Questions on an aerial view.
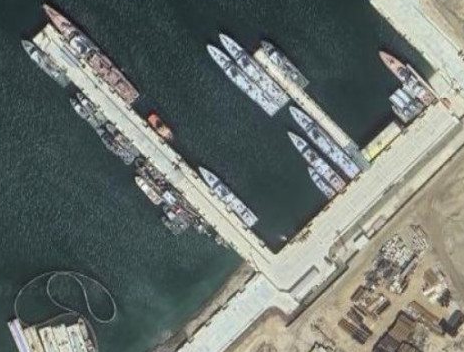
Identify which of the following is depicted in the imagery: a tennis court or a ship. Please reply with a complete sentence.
Of the two, only a ship appears.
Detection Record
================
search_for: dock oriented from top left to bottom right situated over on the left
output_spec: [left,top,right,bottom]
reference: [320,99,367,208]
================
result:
[32,24,274,284]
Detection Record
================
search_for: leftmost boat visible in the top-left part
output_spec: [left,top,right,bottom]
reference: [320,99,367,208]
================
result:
[22,39,71,88]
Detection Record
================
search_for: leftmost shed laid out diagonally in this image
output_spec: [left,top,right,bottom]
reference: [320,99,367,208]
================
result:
[291,270,322,302]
